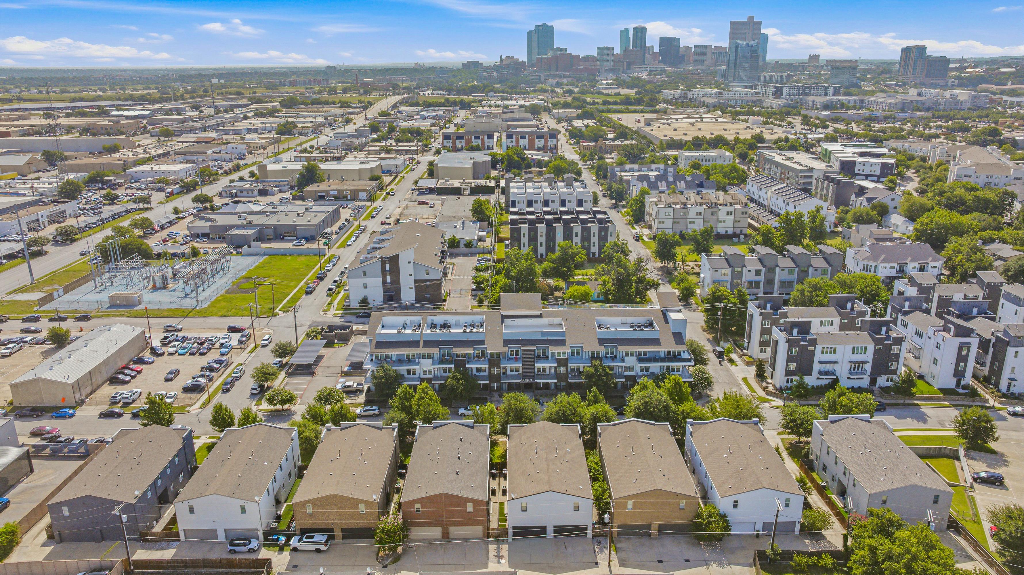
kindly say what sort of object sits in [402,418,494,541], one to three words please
house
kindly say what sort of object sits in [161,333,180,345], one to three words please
vehicle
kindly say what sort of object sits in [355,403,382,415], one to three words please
vehicle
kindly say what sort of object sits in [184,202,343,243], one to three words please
building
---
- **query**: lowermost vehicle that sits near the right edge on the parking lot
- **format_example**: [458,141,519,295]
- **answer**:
[969,469,1006,485]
